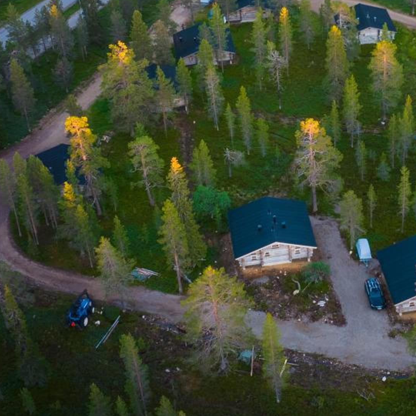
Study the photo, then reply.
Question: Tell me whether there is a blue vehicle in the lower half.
Yes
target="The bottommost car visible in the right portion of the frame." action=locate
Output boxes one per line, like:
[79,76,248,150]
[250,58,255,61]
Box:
[362,273,388,311]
